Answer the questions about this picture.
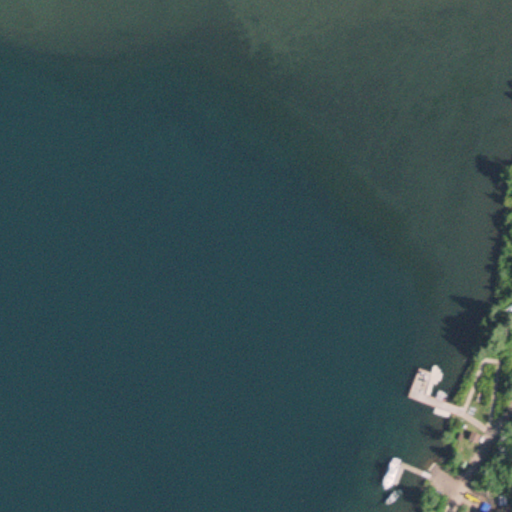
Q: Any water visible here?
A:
Yes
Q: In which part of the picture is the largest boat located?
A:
bottom right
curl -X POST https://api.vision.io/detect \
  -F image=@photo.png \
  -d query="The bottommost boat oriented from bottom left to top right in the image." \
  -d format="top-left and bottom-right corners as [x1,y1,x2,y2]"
[385,489,402,504]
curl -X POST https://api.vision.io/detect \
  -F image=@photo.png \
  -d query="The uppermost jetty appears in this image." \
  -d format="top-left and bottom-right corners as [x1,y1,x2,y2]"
[408,368,486,433]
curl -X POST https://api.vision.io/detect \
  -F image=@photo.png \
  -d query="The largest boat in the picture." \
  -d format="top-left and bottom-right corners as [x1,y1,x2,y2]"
[383,456,402,490]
